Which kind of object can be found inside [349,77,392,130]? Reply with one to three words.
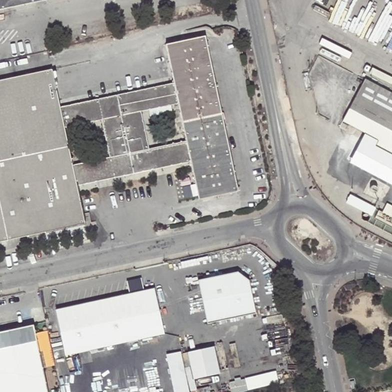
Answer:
shed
